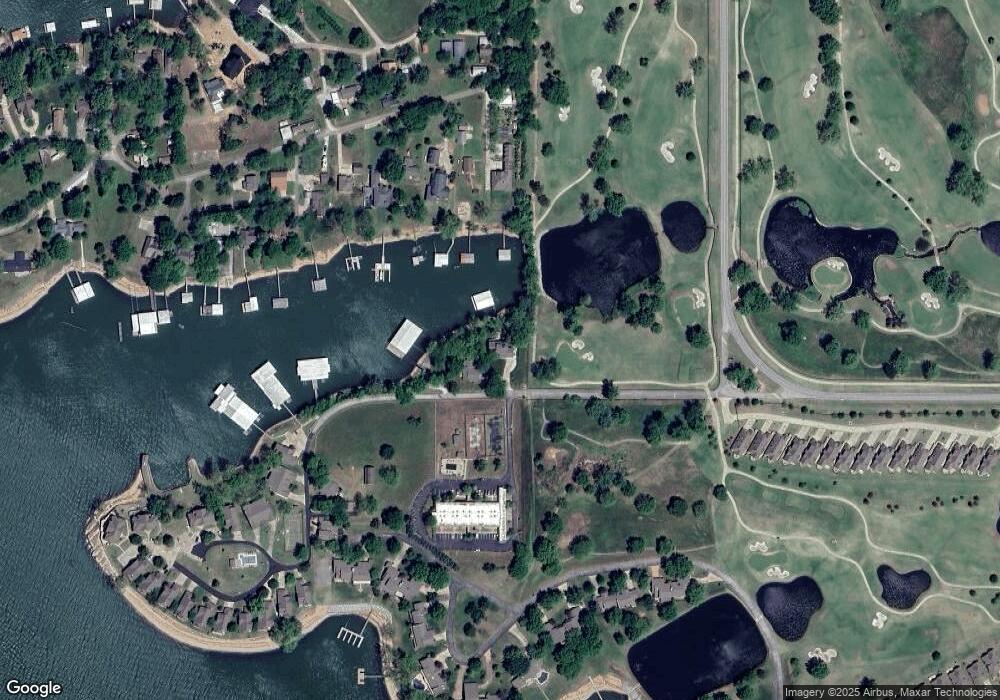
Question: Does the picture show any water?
Yes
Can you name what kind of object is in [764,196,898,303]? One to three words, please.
pond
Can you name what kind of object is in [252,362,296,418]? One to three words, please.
pier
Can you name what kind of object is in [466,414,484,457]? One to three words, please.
sports court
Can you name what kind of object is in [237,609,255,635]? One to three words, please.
house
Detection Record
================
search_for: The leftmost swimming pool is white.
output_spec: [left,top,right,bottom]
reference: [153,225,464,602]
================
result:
[238,553,258,566]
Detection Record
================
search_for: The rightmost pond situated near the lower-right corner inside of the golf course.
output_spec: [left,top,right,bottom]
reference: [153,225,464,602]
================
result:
[877,565,931,609]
